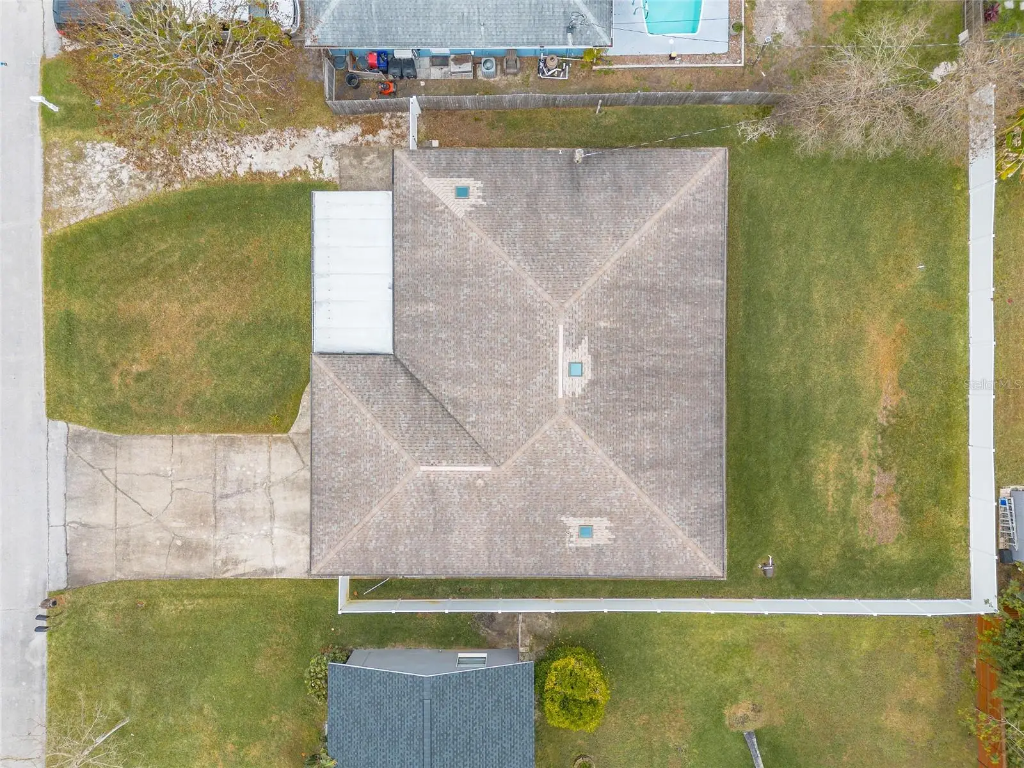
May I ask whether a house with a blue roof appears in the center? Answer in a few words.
No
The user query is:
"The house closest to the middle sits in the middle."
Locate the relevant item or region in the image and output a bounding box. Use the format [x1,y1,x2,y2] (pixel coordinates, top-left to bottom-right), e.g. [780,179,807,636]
[309,147,729,580]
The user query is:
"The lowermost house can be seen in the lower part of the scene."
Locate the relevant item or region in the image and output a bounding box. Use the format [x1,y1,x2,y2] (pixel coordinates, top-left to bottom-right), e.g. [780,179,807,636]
[323,650,533,768]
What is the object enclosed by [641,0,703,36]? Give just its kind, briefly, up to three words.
swimming pool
